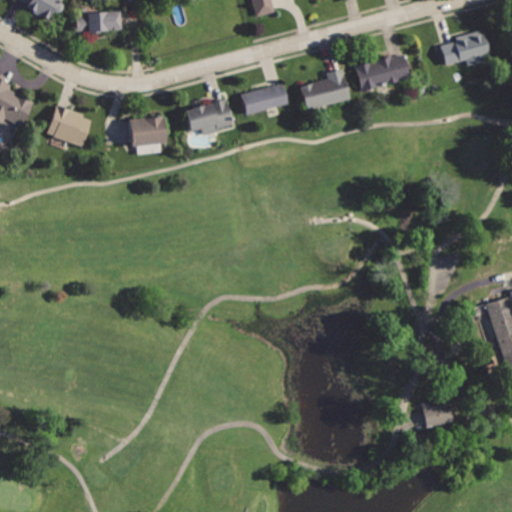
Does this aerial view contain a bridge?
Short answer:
No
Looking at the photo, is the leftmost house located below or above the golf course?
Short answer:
above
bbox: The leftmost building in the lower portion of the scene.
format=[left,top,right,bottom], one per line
[422,401,454,428]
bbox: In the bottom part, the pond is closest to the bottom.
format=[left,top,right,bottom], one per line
[278,470,442,512]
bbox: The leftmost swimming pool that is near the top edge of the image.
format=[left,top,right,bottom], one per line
[172,4,187,28]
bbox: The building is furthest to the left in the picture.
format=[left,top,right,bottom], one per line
[0,78,36,128]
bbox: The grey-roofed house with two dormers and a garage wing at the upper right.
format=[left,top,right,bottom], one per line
[440,30,492,66]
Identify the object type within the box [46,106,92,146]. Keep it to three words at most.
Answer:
house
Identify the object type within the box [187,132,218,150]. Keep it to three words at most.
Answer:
swimming pool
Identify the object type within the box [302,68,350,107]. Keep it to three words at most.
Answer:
house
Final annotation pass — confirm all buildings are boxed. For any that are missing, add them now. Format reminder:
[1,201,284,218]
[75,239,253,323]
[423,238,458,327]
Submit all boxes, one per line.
[302,68,350,107]
[76,10,124,32]
[422,401,454,428]
[440,30,492,66]
[254,0,274,16]
[486,299,512,364]
[241,84,288,115]
[32,0,65,19]
[46,106,92,146]
[131,114,168,156]
[356,55,410,92]
[0,78,36,128]
[188,96,234,134]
